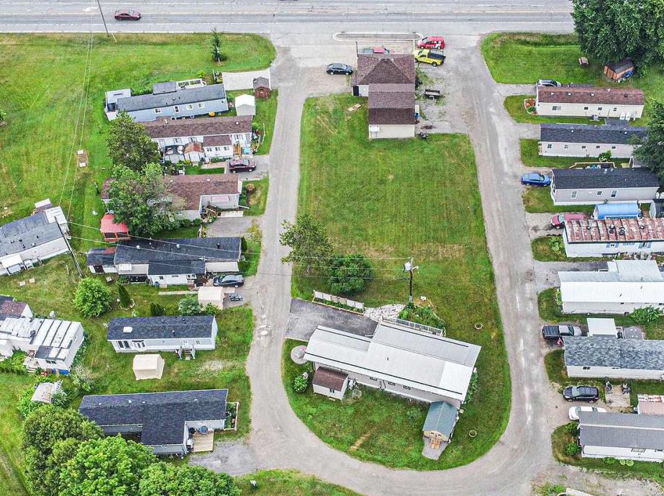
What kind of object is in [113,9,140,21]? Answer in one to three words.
vehicle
